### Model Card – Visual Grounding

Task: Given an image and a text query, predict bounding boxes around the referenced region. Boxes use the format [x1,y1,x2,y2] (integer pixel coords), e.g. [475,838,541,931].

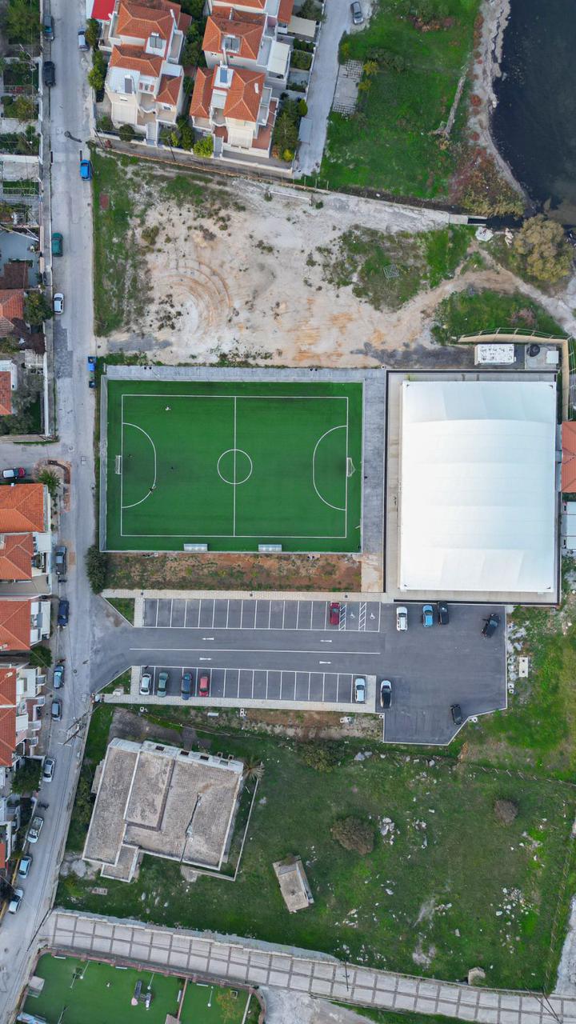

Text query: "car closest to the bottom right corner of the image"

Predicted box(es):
[450,703,463,726]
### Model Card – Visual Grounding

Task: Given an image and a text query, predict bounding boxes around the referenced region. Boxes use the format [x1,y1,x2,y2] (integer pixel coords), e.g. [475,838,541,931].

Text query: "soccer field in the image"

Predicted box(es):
[105,379,364,553]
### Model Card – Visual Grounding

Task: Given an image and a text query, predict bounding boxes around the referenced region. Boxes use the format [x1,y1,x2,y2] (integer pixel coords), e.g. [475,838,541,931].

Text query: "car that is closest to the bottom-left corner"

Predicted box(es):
[8,887,25,914]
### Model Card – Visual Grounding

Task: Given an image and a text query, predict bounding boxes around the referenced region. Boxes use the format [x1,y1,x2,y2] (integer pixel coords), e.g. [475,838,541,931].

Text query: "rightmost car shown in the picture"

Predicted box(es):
[482,613,499,638]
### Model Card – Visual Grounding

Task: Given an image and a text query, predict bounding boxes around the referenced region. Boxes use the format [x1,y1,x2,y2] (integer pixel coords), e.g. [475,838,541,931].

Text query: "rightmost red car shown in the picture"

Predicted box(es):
[329,601,341,625]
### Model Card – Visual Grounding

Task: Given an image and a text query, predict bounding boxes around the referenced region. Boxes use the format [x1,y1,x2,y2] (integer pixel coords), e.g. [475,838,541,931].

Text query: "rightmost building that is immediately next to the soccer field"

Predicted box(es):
[385,369,561,607]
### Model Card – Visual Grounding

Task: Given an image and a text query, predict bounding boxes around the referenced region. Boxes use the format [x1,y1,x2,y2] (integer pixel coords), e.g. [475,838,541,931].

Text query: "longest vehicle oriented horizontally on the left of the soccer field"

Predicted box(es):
[2,467,26,479]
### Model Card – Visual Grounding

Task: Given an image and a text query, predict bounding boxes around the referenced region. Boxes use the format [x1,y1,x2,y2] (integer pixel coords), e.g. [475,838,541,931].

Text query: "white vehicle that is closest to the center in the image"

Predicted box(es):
[396,605,409,630]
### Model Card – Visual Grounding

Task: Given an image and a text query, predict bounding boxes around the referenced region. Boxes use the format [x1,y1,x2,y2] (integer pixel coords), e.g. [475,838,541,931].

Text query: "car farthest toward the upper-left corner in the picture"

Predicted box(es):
[42,14,55,41]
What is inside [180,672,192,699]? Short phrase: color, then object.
blue vehicle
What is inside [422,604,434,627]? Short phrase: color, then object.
blue vehicle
